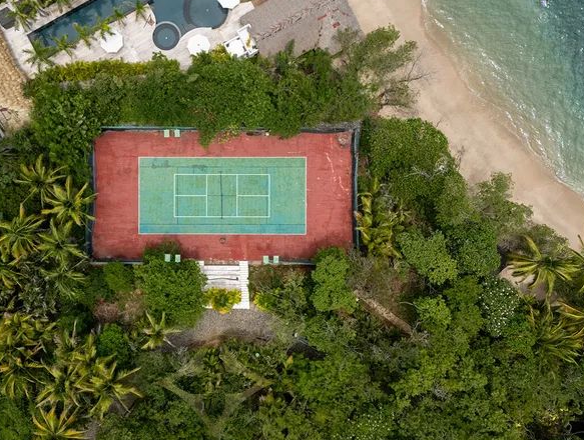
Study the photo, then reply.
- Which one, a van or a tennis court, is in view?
tennis court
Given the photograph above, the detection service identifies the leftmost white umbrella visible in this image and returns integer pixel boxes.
[101,32,123,54]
